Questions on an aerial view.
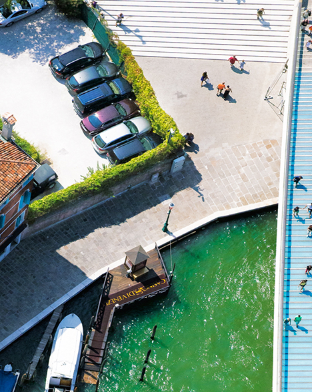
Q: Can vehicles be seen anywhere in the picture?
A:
Yes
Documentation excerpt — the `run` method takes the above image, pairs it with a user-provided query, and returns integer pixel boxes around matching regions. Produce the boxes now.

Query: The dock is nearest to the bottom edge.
[82,242,172,389]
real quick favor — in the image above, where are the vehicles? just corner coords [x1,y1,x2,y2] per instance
[0,0,45,28]
[67,60,120,92]
[30,163,67,196]
[74,77,130,112]
[47,44,105,80]
[81,98,138,133]
[93,118,147,151]
[106,133,159,164]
